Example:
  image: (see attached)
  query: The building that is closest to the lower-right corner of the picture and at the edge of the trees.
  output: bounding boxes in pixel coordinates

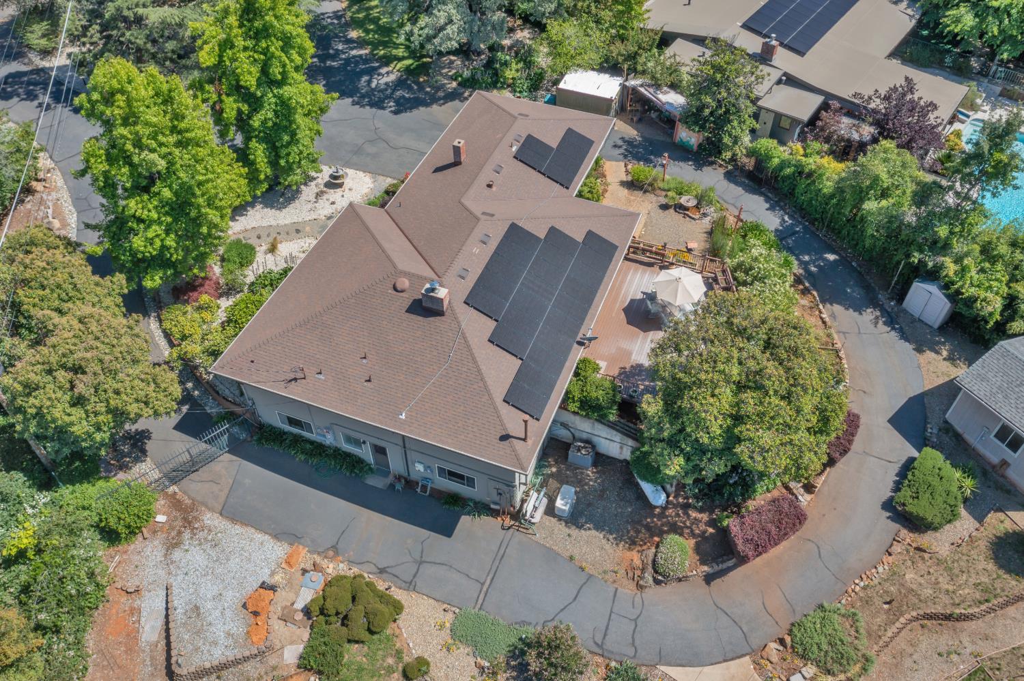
[948,340,1024,480]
